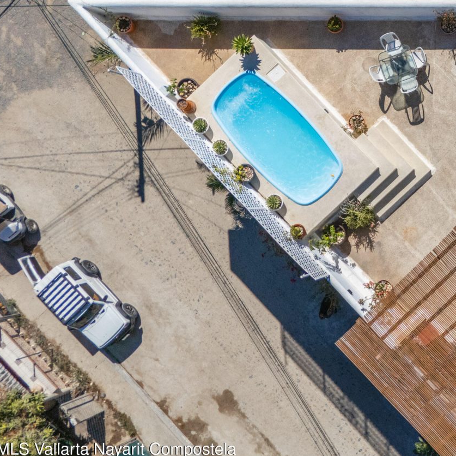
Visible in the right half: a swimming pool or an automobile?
swimming pool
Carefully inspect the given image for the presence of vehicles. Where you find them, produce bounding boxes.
[4,260,146,358]
[0,176,43,258]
